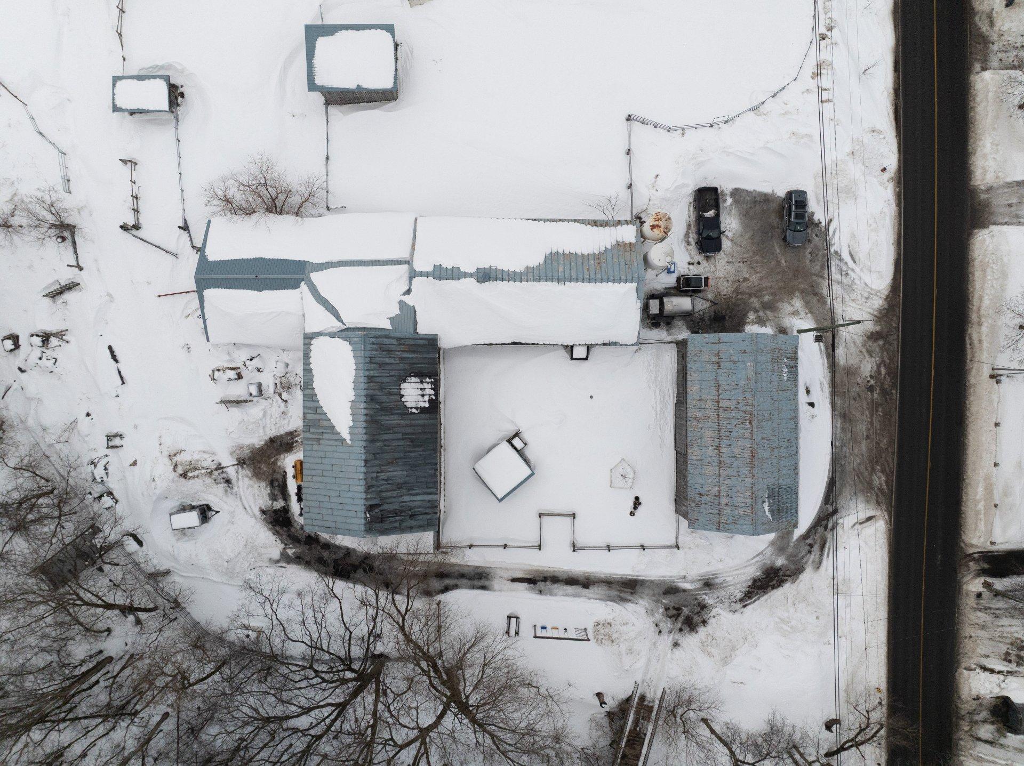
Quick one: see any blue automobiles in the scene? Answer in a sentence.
No, there is no blue automobile in the image.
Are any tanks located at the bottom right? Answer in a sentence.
No, I see no tank at the bottom right.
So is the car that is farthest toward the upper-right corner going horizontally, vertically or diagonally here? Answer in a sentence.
From this overhead view, the car that is farthest toward the upper-right corner appears to run vertically.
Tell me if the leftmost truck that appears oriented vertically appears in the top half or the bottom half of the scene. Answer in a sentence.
Seen from above, the leftmost truck that appears oriented vertically lies in the top half of the view.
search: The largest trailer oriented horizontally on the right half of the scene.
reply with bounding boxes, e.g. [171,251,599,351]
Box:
[648,291,720,322]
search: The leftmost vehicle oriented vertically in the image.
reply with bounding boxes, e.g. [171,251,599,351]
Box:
[695,183,728,255]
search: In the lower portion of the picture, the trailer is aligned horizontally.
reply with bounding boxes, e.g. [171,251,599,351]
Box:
[159,502,221,537]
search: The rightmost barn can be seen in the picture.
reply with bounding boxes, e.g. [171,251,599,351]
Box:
[676,333,799,535]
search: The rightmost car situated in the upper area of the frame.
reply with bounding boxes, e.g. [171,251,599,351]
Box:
[786,186,815,245]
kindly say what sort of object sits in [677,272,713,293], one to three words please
work vehicle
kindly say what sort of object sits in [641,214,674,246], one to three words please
storage tank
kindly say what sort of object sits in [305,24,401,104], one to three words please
shed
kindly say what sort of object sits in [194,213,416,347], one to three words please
barn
